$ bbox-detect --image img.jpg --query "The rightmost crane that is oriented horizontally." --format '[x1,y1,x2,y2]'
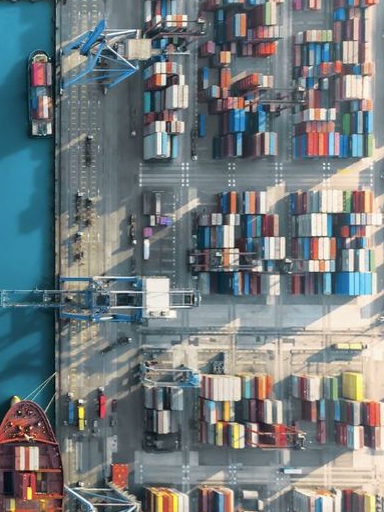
[286,254,364,274]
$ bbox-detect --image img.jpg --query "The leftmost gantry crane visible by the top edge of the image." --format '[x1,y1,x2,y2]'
[61,18,167,94]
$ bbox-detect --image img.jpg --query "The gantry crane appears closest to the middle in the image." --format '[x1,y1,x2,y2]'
[191,253,261,274]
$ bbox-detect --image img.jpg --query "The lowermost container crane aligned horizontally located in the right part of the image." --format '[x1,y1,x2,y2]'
[241,426,301,448]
